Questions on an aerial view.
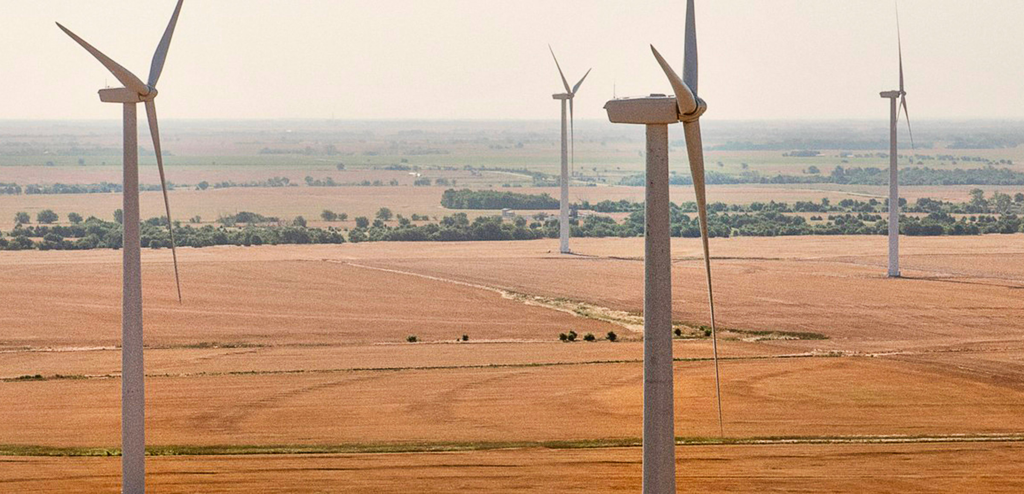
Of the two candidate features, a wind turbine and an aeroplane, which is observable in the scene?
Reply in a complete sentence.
The image shows a wind turbine.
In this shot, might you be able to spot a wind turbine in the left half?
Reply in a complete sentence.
Yes, you'll find a wind turbine in the left half.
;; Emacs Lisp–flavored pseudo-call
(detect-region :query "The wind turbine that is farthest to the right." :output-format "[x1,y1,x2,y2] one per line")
[879,0,912,277]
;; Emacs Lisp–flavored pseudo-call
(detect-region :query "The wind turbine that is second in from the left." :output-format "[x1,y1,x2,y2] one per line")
[547,42,589,254]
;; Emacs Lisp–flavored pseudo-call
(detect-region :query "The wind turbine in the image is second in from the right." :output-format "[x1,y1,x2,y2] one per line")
[602,0,720,494]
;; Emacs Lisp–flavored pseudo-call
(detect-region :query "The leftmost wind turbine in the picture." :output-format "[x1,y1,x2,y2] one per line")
[50,0,183,494]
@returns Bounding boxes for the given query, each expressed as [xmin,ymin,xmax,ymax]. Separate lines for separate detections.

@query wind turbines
[879,0,912,277]
[547,42,589,254]
[602,0,720,494]
[50,0,183,494]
